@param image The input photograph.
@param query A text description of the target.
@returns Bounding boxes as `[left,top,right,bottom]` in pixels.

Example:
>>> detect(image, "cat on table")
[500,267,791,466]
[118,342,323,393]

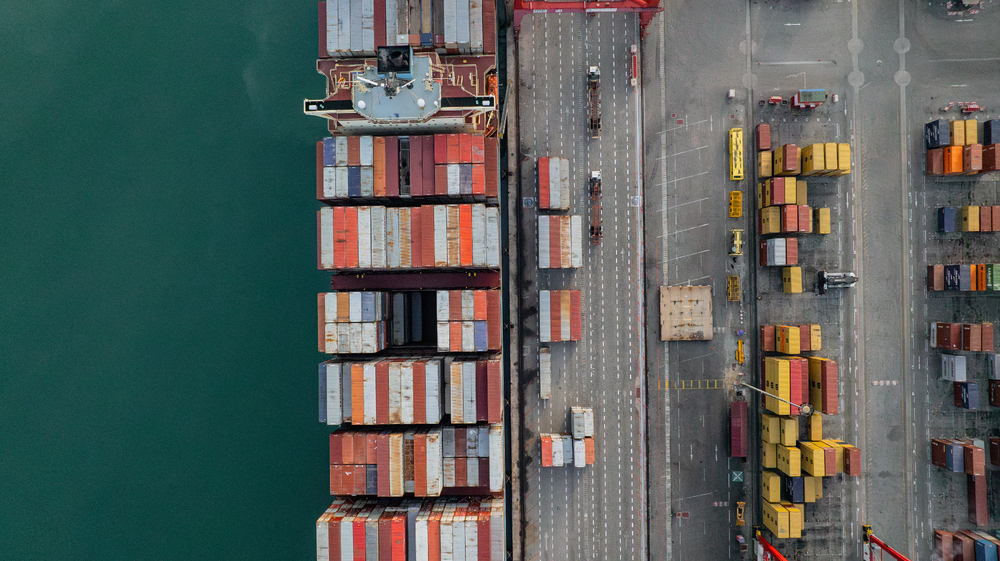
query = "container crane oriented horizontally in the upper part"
[513,0,664,44]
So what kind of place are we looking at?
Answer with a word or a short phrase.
port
